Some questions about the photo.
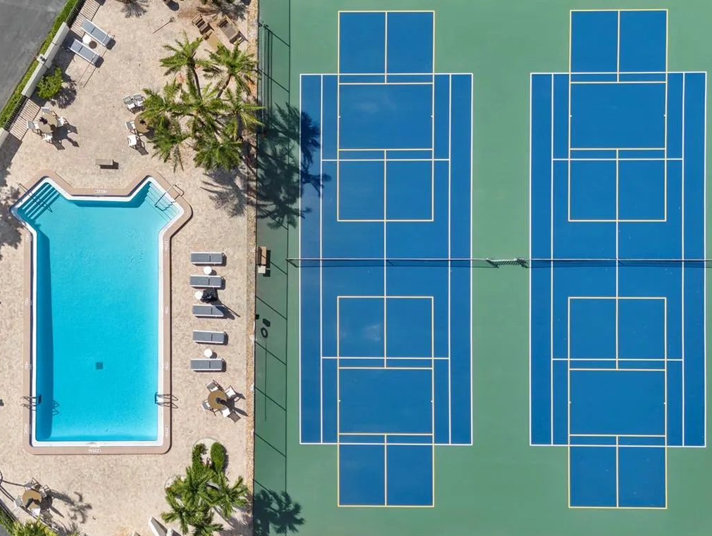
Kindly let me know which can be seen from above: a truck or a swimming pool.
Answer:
swimming pool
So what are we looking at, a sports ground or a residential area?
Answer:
sports ground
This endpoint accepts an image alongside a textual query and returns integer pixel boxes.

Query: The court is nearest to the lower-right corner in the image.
[569,297,667,508]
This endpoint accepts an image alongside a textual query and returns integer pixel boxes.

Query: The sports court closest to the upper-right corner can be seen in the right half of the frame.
[569,9,667,221]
